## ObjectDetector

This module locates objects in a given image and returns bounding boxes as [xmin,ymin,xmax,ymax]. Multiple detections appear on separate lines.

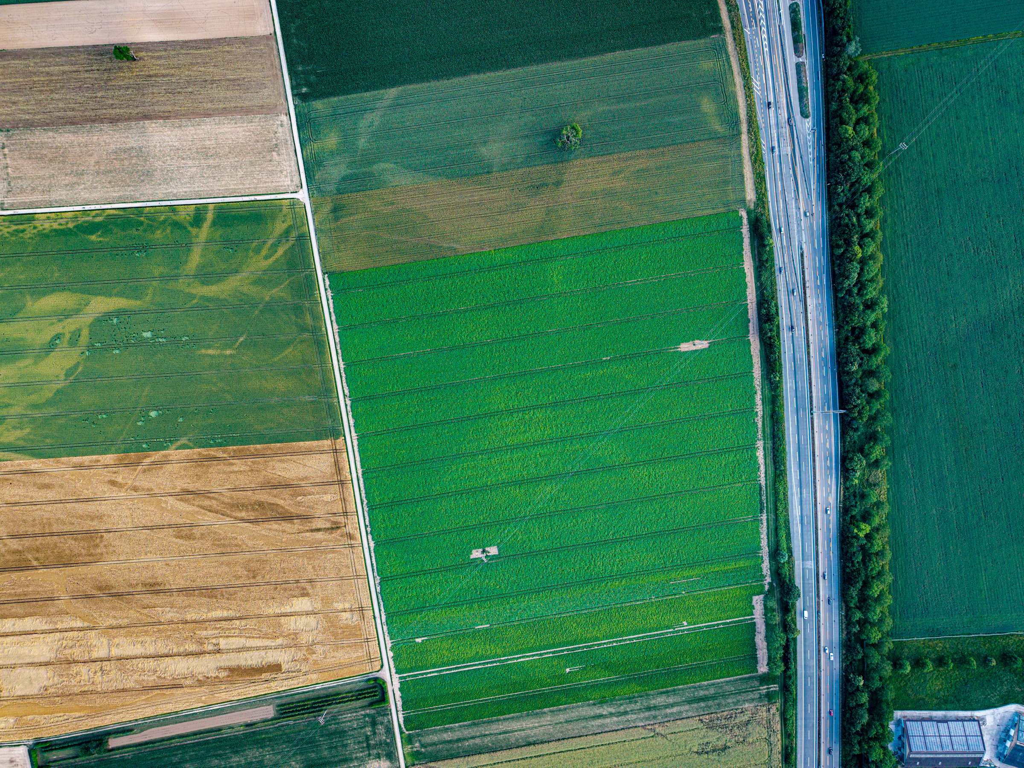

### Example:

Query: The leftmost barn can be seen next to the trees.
[900,718,988,768]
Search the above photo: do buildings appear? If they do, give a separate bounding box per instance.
[900,718,988,768]
[998,711,1024,768]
